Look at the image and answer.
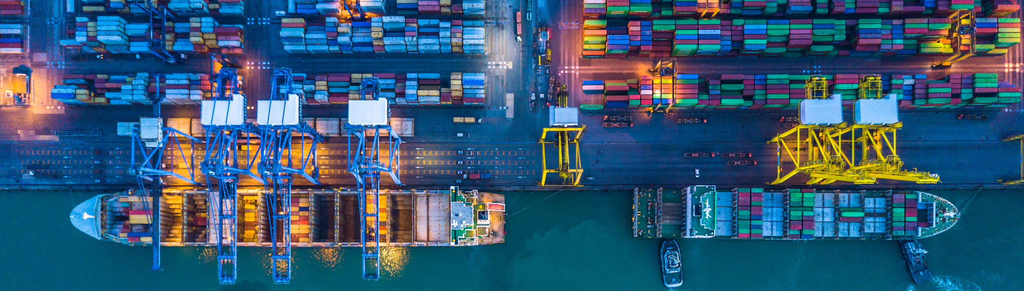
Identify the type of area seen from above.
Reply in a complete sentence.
The area seen from above is a port.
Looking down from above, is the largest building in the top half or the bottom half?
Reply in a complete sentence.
The largest building is in the top half of the image.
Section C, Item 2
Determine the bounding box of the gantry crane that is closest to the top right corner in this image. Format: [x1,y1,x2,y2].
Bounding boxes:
[937,9,976,66]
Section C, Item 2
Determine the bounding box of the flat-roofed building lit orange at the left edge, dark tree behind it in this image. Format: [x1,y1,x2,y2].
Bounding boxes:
[4,69,41,112]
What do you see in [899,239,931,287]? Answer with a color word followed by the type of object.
blue boat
